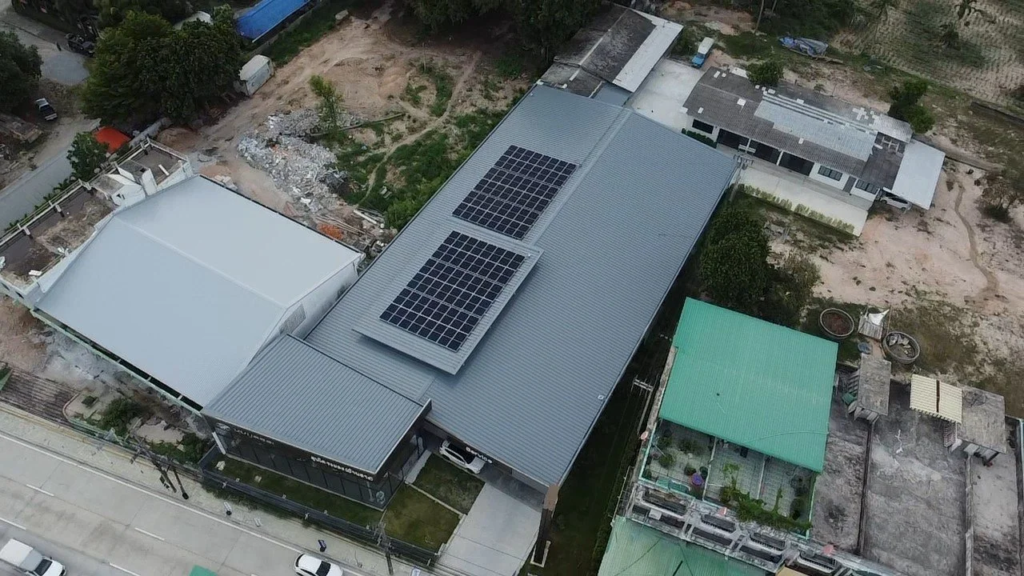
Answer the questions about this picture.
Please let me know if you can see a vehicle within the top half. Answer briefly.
Yes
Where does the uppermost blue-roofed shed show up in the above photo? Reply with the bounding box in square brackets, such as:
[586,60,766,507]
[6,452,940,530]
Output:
[236,0,314,49]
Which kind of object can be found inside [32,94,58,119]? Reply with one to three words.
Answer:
truck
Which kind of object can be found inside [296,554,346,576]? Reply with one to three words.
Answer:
car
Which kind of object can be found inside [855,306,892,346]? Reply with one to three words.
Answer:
shed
